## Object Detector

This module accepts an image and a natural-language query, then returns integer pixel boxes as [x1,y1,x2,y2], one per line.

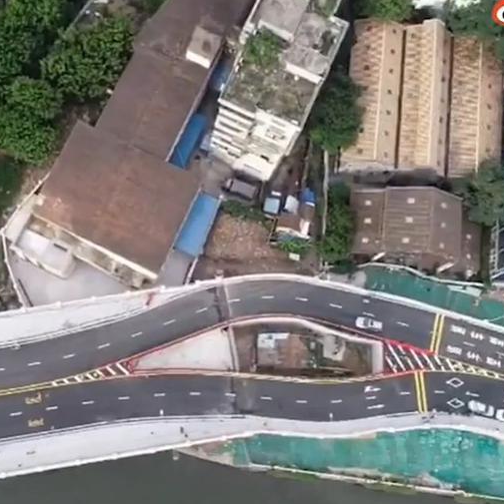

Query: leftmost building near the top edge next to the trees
[94,0,260,172]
